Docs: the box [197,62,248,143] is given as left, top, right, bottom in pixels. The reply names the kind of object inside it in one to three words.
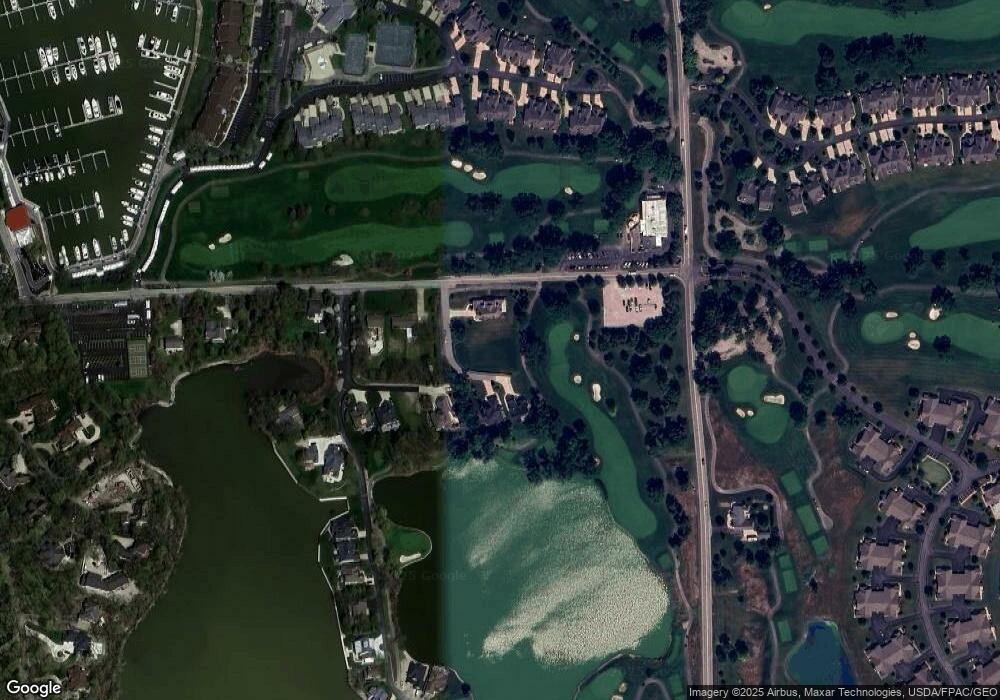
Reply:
building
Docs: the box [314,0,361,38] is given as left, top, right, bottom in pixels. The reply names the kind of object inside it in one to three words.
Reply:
building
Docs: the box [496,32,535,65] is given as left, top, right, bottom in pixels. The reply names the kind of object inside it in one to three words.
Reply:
house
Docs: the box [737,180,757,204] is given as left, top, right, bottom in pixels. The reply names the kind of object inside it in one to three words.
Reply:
house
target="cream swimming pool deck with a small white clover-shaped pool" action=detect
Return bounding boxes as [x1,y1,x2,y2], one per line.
[305,43,345,80]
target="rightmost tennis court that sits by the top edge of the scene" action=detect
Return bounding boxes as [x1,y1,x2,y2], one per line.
[374,24,418,67]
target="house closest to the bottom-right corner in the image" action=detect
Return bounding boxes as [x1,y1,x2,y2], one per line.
[972,662,1000,698]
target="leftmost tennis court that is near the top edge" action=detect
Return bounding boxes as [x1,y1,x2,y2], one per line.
[343,33,367,75]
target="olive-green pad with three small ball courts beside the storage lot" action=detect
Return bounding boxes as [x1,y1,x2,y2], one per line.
[126,339,148,380]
